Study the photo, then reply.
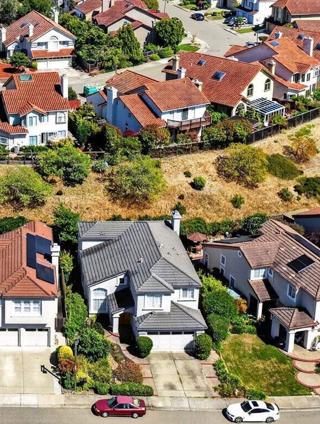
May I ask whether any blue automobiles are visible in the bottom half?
No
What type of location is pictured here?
residential area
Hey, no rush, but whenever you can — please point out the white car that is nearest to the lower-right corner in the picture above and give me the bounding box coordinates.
[224,397,284,424]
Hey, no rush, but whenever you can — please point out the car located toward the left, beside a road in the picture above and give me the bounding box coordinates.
[93,394,148,420]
